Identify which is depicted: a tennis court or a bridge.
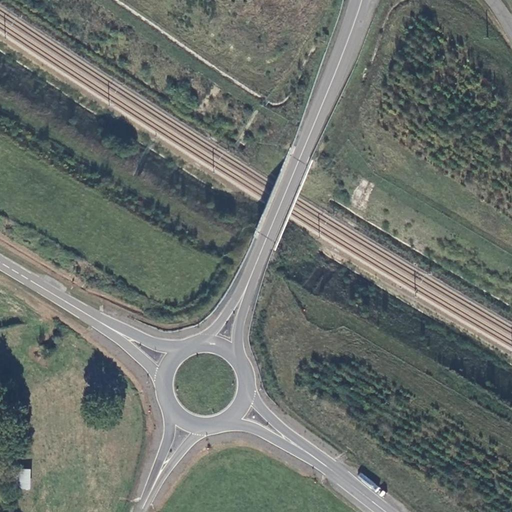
bridge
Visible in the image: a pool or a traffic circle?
traffic circle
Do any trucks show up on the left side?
No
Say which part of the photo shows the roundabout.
bottom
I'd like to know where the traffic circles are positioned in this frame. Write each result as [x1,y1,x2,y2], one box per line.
[90,298,322,475]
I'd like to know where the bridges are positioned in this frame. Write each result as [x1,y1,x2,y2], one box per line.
[252,148,310,252]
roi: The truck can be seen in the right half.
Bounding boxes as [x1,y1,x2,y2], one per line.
[358,472,386,498]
